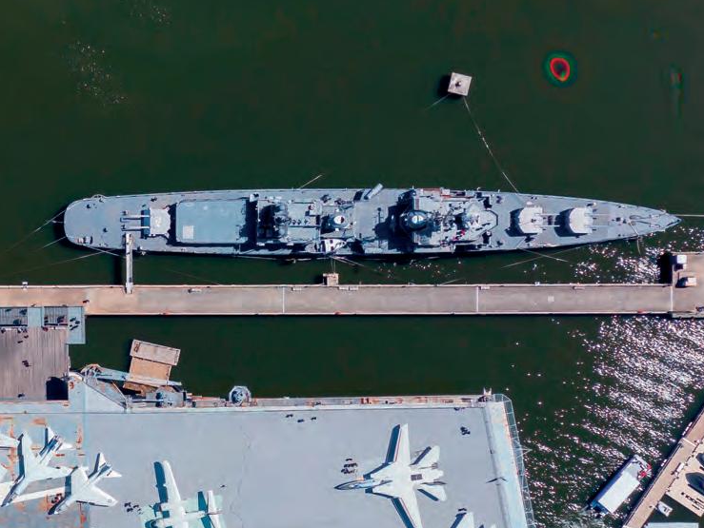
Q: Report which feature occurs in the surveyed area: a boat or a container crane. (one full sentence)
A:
It is a boat that can be seen here.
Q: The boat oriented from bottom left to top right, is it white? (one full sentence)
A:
Yes, the boat oriented from bottom left to top right is indeed white.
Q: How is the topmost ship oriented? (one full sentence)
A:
In this picture, the topmost ship lies from side to side.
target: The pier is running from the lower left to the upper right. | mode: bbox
[624,407,704,528]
